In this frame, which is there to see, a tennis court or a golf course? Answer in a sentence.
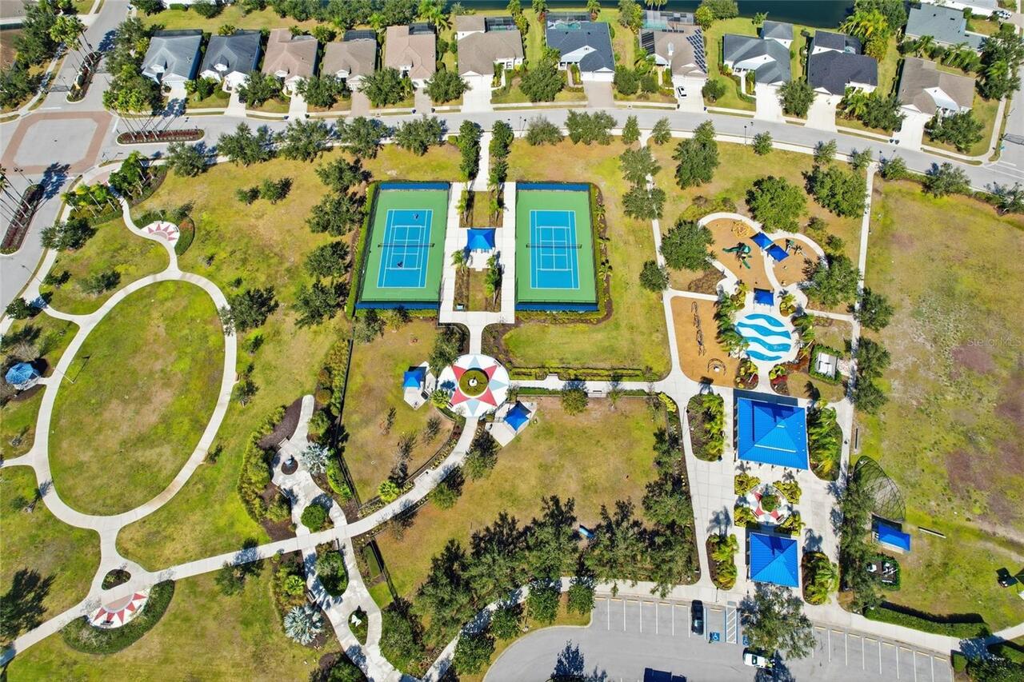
The one in the frame is a tennis court.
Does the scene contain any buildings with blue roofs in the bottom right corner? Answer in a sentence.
Yes, I can see a building with a blue roof in the bottom right corner.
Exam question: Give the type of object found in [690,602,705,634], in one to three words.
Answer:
car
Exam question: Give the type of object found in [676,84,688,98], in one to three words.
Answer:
vehicle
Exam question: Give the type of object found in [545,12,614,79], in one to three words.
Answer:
house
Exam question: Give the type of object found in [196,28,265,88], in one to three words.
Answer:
house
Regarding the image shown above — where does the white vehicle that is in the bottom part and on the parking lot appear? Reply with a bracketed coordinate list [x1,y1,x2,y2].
[741,651,778,670]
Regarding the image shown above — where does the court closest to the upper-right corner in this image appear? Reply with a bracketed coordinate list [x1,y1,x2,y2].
[516,190,598,295]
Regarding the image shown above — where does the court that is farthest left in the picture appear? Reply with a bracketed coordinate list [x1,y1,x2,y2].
[363,190,448,298]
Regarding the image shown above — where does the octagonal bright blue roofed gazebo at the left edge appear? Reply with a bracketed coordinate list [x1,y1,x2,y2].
[4,362,48,393]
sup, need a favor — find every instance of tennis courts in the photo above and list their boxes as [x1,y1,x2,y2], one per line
[516,190,598,295]
[363,190,448,298]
